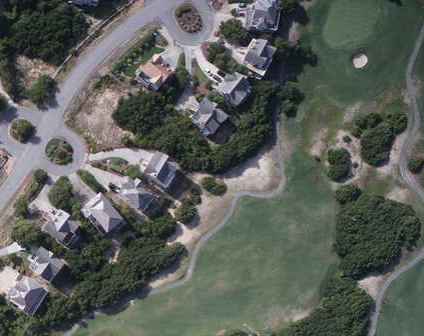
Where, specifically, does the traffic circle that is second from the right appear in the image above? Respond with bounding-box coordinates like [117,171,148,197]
[32,124,88,177]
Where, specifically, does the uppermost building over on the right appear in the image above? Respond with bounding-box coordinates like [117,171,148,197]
[243,0,283,33]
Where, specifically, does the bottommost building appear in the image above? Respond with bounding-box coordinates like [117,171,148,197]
[6,272,50,315]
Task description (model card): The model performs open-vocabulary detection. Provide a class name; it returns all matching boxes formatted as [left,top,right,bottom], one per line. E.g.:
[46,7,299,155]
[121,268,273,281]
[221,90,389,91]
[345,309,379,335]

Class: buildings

[6,272,50,315]
[116,176,157,215]
[40,205,83,252]
[140,150,181,189]
[208,68,253,110]
[133,52,174,88]
[242,36,274,80]
[79,191,126,235]
[186,95,232,136]
[243,0,283,33]
[28,245,67,282]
